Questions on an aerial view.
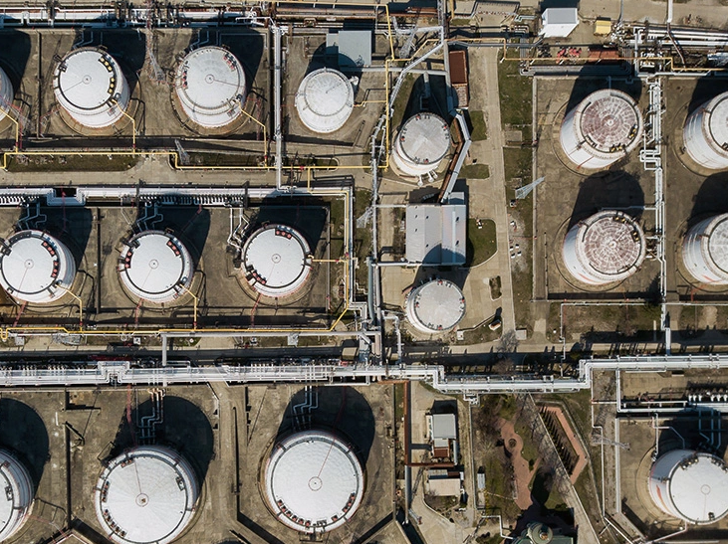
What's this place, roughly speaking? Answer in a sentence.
This image shows an industrial area.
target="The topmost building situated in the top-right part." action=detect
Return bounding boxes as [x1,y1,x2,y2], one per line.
[537,7,578,34]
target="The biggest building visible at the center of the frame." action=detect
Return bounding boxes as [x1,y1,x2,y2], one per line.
[404,203,465,264]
